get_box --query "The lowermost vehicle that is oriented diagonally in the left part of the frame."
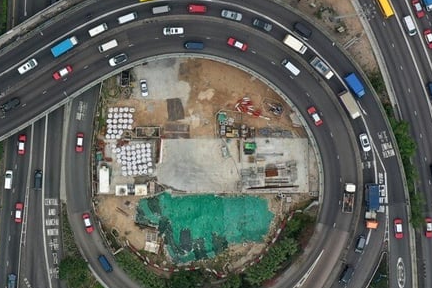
[97,253,113,273]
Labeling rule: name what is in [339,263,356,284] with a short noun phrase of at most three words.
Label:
vehicle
